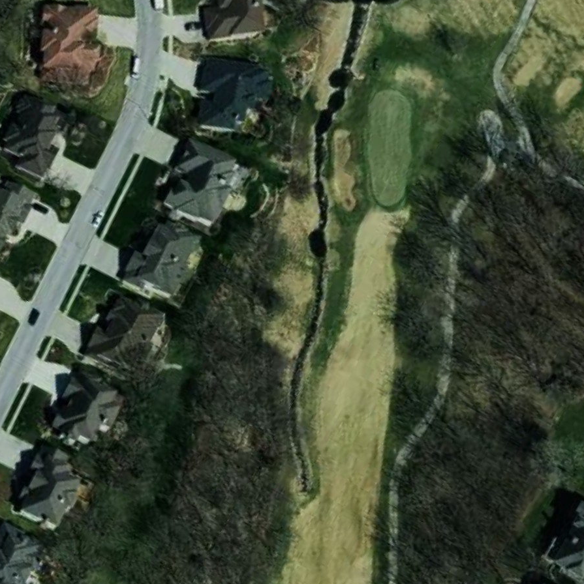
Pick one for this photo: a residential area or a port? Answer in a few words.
residential area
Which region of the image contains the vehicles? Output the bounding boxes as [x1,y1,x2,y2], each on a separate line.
[92,210,103,225]
[38,204,49,214]
[154,0,162,8]
[29,309,40,325]
[132,59,140,74]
